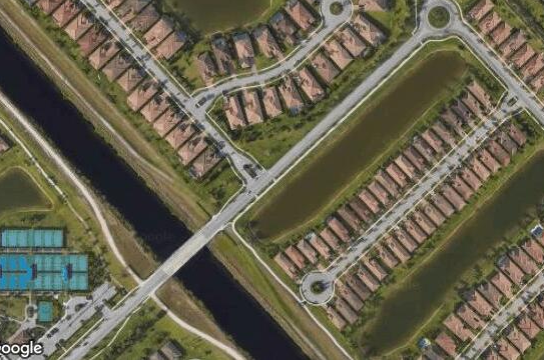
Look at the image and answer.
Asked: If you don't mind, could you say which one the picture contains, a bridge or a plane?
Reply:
bridge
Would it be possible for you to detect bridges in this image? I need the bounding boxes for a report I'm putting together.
[156,221,216,278]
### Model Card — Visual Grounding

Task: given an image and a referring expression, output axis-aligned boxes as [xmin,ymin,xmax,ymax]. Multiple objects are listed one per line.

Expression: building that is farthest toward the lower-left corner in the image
[4,321,34,351]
